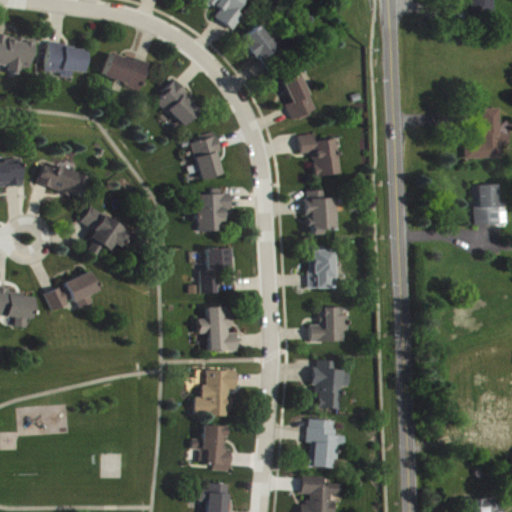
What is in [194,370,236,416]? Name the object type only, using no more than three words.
house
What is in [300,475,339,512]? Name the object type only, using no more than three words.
house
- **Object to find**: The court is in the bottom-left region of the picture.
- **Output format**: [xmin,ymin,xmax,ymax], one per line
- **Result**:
[100,452,122,478]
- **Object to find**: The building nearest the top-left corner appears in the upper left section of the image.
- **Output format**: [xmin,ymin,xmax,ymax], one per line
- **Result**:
[0,34,40,74]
